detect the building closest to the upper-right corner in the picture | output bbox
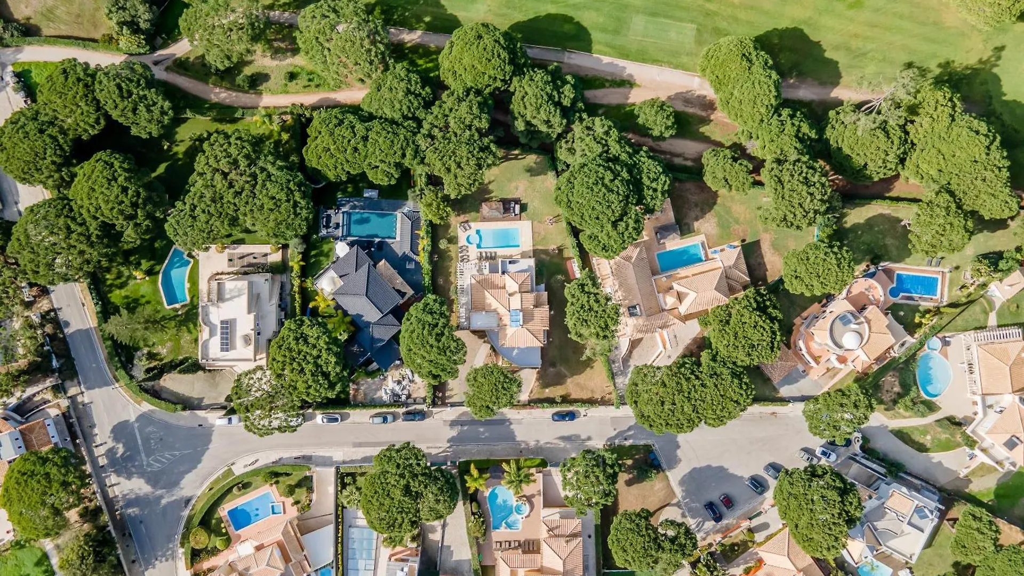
[982,267,1024,302]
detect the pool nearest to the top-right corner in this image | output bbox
[887,270,943,301]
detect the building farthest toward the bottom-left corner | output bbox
[0,380,84,488]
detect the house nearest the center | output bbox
[456,221,549,367]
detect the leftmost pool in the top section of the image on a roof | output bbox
[340,209,399,240]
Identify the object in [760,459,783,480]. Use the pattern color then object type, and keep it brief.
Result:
gray car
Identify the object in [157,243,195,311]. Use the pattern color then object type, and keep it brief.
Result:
blue swimming pool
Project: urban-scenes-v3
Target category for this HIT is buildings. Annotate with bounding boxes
[735,528,822,576]
[0,380,84,488]
[193,484,335,576]
[982,267,1024,302]
[478,467,583,576]
[913,326,1024,471]
[199,245,287,373]
[590,198,750,369]
[456,221,549,367]
[315,199,422,370]
[827,451,944,576]
[789,264,946,387]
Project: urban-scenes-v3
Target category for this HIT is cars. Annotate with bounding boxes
[369,413,395,425]
[401,410,427,422]
[701,497,723,526]
[718,490,734,512]
[794,447,819,462]
[316,413,342,425]
[812,444,838,462]
[552,410,577,423]
[760,459,783,480]
[744,472,767,496]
